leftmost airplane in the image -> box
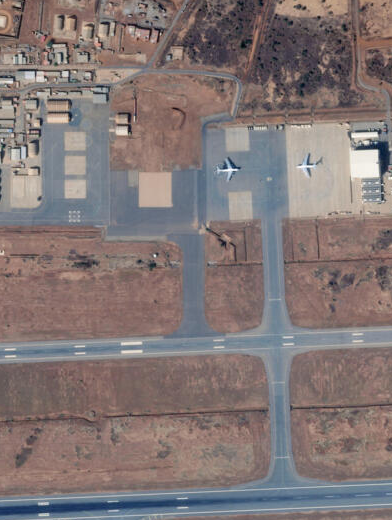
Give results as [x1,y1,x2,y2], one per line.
[216,159,240,181]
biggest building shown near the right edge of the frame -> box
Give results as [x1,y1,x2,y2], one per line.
[352,149,380,177]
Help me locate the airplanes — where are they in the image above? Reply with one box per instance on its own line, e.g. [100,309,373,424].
[216,159,240,181]
[296,154,319,178]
